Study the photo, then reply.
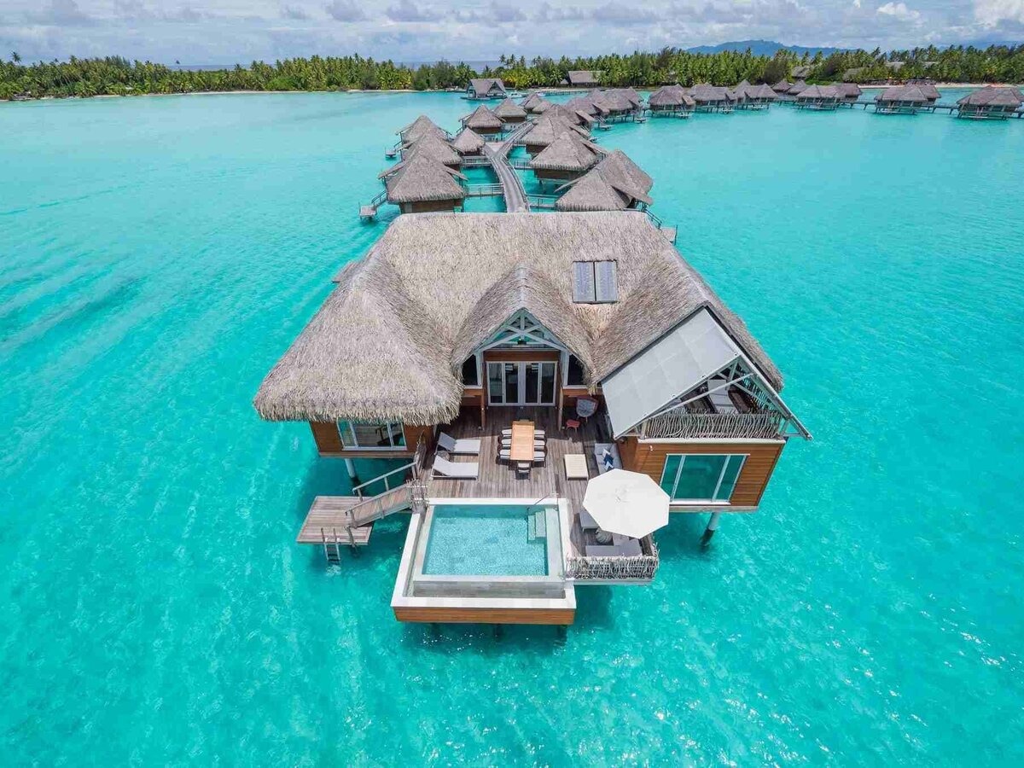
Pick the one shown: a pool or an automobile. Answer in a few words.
pool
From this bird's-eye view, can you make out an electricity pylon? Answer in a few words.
No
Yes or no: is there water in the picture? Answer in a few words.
Yes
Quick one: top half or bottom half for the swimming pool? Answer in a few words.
bottom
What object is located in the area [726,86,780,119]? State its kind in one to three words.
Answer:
house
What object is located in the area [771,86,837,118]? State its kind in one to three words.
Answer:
house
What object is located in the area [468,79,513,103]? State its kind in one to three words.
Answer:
building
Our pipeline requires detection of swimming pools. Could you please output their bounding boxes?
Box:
[391,489,578,623]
